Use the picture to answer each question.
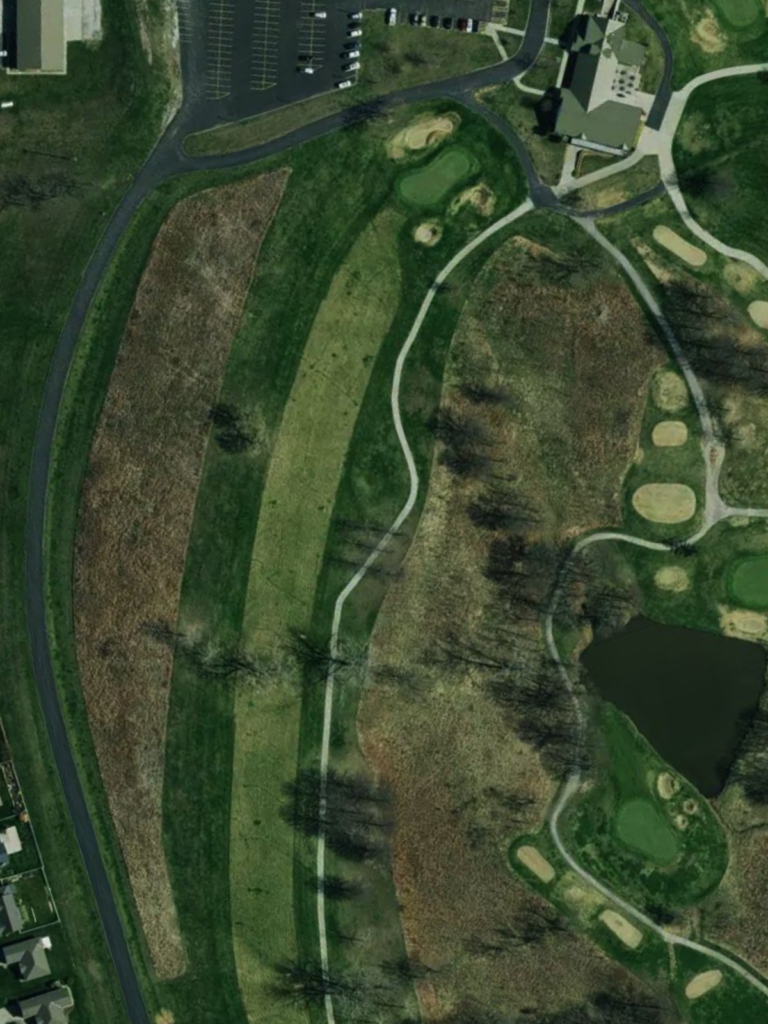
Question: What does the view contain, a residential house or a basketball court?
residential house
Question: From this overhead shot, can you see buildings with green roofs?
Yes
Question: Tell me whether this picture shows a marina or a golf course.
golf course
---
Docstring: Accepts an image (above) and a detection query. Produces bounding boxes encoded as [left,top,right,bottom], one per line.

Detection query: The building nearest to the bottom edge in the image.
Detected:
[18,987,73,1024]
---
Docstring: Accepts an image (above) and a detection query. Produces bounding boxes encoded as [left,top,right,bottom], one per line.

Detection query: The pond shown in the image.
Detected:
[577,613,768,802]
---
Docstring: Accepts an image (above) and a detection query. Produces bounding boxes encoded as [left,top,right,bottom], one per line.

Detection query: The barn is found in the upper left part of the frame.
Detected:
[16,0,63,68]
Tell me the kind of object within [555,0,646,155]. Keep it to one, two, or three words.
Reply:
building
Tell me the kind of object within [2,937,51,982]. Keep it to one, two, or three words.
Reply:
house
